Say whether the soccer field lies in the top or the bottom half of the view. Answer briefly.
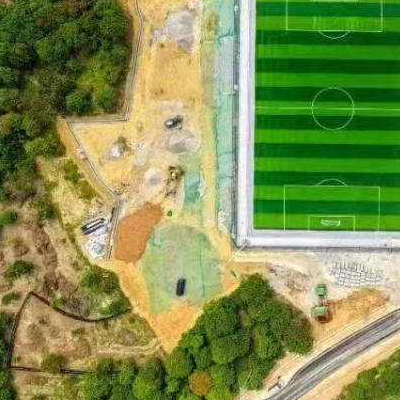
top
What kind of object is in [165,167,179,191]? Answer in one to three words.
work vehicle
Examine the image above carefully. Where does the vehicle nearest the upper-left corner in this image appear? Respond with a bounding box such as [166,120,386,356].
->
[164,115,182,128]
